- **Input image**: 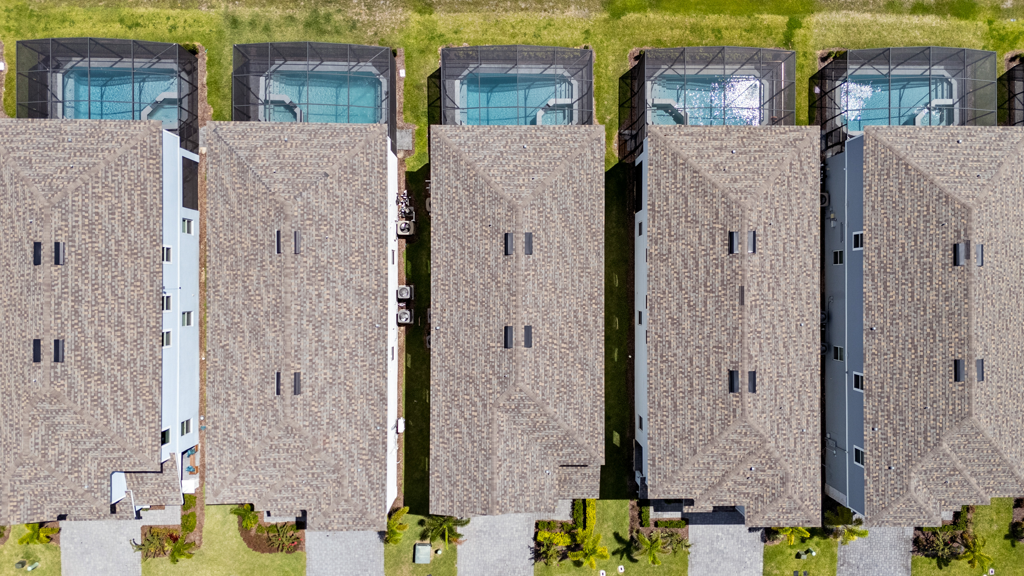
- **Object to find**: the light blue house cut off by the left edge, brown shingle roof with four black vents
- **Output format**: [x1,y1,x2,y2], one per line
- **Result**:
[0,120,200,525]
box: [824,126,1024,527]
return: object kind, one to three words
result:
house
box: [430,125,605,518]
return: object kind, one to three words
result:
house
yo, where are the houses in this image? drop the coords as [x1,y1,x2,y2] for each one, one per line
[0,120,200,525]
[206,122,400,531]
[824,126,1024,527]
[430,125,605,518]
[634,126,821,527]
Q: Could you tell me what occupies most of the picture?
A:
buildings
